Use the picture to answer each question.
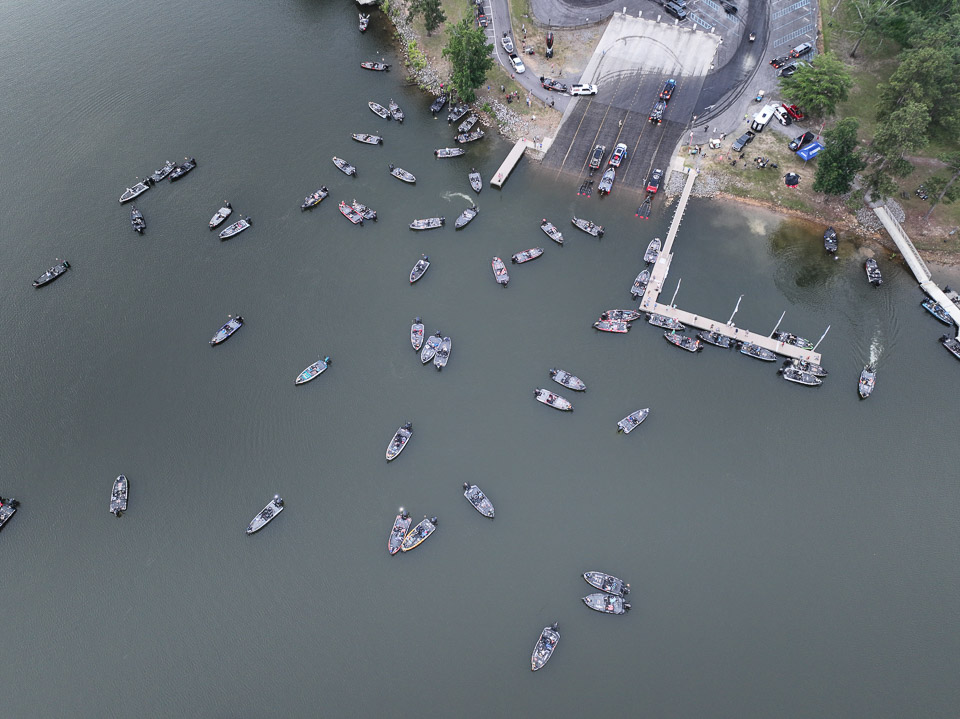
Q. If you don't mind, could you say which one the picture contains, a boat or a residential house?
boat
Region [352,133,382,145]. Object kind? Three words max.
boat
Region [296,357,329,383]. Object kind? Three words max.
boat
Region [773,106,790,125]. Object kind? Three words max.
vehicle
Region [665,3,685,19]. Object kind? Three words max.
car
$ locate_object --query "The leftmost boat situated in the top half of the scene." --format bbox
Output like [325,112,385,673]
[33,262,68,285]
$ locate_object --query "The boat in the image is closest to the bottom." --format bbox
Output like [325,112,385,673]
[532,625,559,669]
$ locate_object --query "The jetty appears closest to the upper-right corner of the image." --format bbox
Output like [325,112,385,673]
[874,202,960,343]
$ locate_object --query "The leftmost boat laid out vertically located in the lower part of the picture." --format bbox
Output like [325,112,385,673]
[109,474,128,516]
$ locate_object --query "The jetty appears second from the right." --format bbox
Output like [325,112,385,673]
[638,183,821,366]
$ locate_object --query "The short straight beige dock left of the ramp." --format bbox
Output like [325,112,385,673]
[490,140,527,188]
